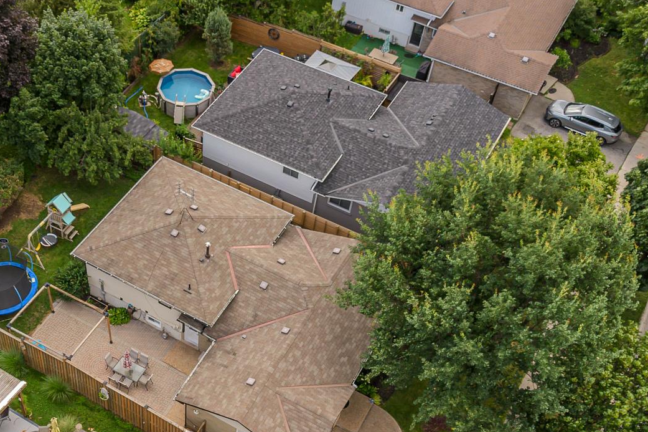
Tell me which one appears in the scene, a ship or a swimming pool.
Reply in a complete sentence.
Of the two, only a swimming pool appears.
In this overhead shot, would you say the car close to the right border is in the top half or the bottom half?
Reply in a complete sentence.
It is in the top half that the car close to the right border appears.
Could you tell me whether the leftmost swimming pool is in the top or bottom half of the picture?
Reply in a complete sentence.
The leftmost swimming pool sits in the top half of the picture.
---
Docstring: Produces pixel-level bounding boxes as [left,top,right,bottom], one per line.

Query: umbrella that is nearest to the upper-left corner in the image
[149,61,174,81]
